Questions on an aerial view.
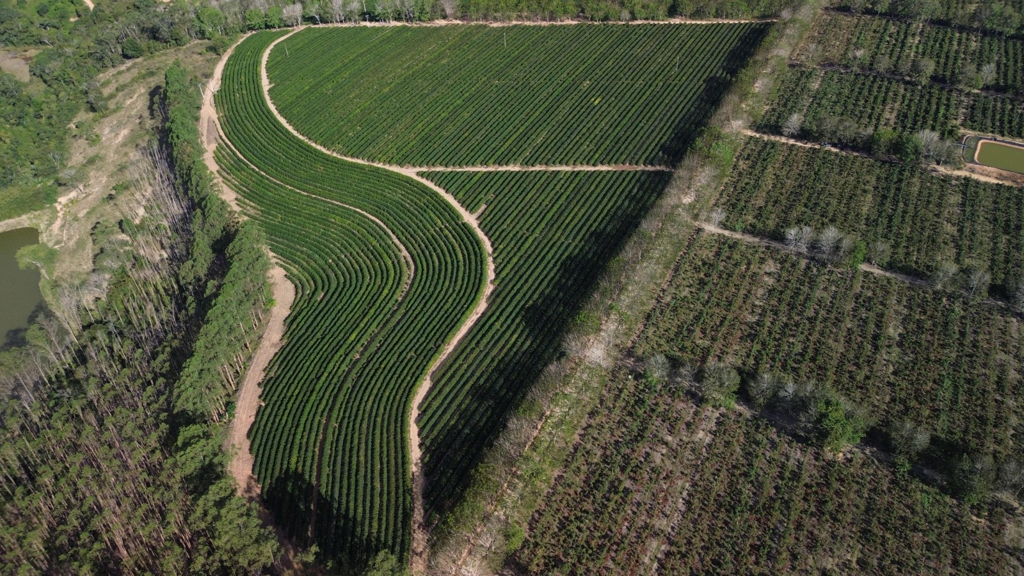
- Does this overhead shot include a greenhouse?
No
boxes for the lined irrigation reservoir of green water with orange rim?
[959,133,1024,183]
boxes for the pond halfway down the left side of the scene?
[0,232,58,357]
